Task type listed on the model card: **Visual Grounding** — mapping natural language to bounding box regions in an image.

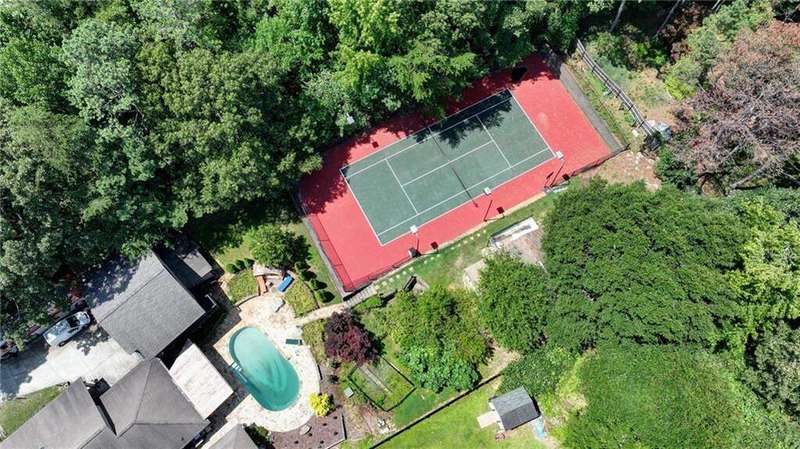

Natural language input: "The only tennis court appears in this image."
[280,41,618,292]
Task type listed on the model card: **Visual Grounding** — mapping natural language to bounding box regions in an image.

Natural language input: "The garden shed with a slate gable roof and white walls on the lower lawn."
[491,387,540,430]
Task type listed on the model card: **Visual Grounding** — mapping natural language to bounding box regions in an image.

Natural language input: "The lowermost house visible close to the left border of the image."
[0,357,212,449]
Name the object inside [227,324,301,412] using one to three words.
swimming pool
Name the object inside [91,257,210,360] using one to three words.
building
